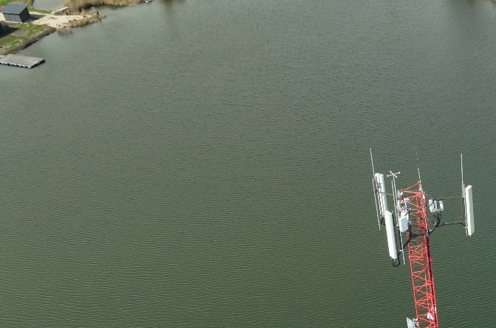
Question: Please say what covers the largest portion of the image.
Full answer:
The largest share of the image is taken up by water.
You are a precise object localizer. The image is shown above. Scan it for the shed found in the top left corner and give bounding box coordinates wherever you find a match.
[0,0,39,22]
